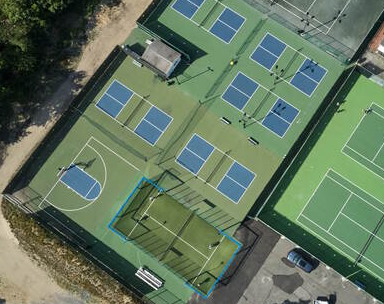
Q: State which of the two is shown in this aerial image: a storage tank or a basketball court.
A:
basketball court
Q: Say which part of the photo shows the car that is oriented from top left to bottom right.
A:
bottom right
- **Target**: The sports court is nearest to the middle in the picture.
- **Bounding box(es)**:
[175,134,257,204]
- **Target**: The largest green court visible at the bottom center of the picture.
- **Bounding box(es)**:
[107,176,242,299]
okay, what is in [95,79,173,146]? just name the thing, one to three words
sports court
